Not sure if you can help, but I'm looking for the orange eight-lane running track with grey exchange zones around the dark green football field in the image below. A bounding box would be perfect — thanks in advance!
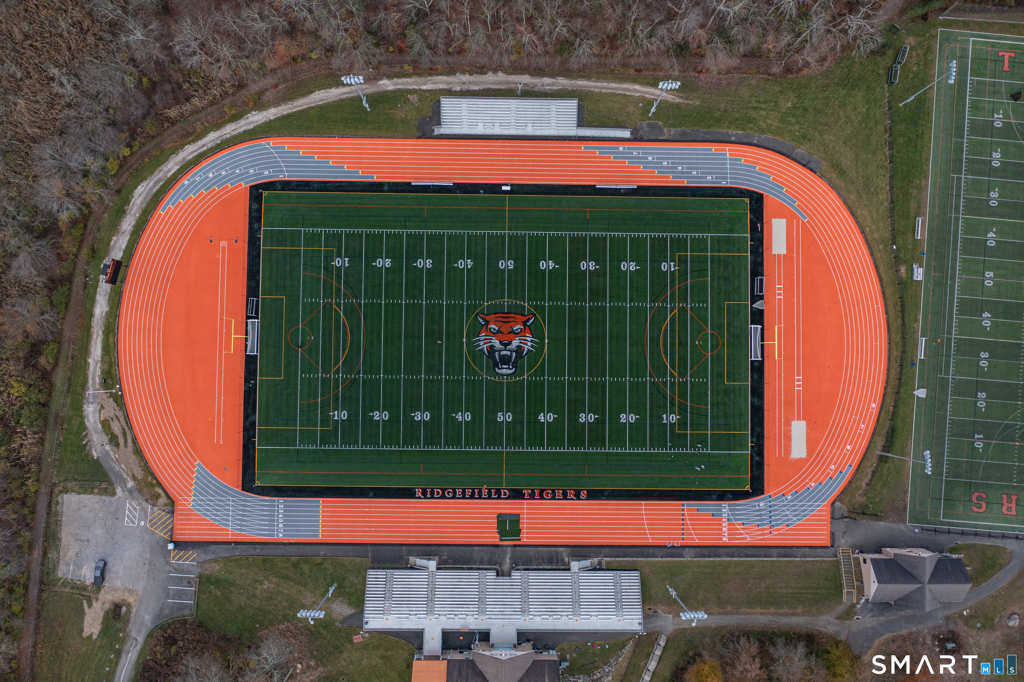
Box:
[114,134,891,548]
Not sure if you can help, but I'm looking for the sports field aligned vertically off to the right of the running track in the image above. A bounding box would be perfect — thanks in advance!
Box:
[907,28,1024,534]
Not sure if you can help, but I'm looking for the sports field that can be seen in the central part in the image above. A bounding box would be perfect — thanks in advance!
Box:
[241,180,764,502]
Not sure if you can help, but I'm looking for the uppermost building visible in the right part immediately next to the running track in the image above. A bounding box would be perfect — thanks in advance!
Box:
[860,548,972,613]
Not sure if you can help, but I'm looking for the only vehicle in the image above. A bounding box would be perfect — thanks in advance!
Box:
[91,560,105,587]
